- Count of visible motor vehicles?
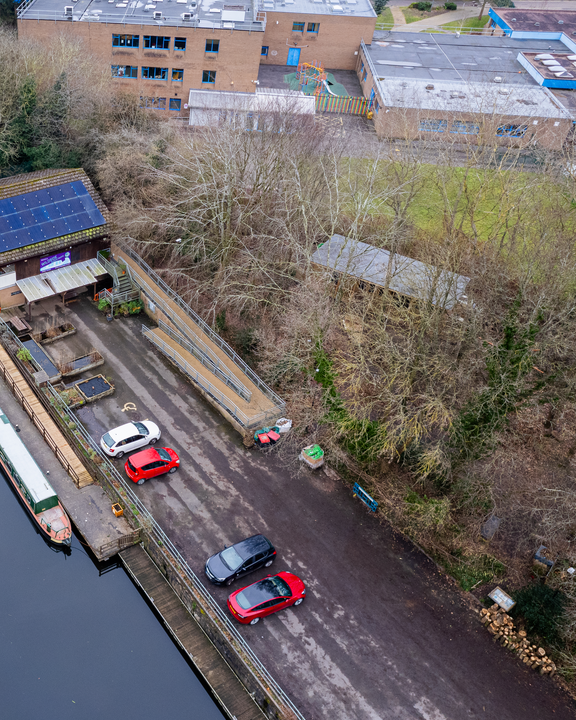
4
